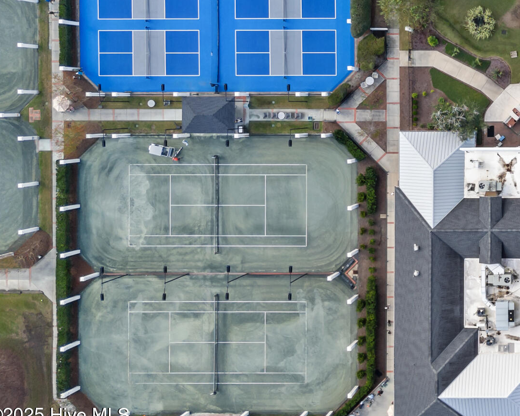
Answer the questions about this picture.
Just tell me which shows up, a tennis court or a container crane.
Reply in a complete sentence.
Of the two, only a tennis court appears.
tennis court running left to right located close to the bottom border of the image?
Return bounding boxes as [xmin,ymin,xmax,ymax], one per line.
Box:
[76,275,358,412]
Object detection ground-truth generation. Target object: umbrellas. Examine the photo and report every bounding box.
[386,402,395,416]
[54,93,76,114]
